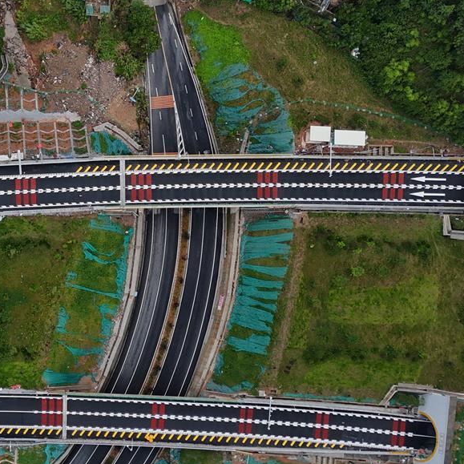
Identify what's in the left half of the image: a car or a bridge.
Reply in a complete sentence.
It is a bridge that can be seen in the left half of the image.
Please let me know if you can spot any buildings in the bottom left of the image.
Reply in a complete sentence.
No, no building can be made out in the bottom left of the image.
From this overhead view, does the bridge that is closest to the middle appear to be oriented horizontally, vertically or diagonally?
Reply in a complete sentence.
The bridge that is closest to the middle is oriented horizontally.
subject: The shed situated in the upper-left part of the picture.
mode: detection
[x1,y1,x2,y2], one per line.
[86,0,111,15]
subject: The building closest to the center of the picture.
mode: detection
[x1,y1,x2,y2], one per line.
[305,125,331,143]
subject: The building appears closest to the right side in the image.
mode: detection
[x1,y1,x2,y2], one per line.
[329,129,366,147]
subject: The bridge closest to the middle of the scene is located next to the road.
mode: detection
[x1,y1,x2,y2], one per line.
[86,152,287,210]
